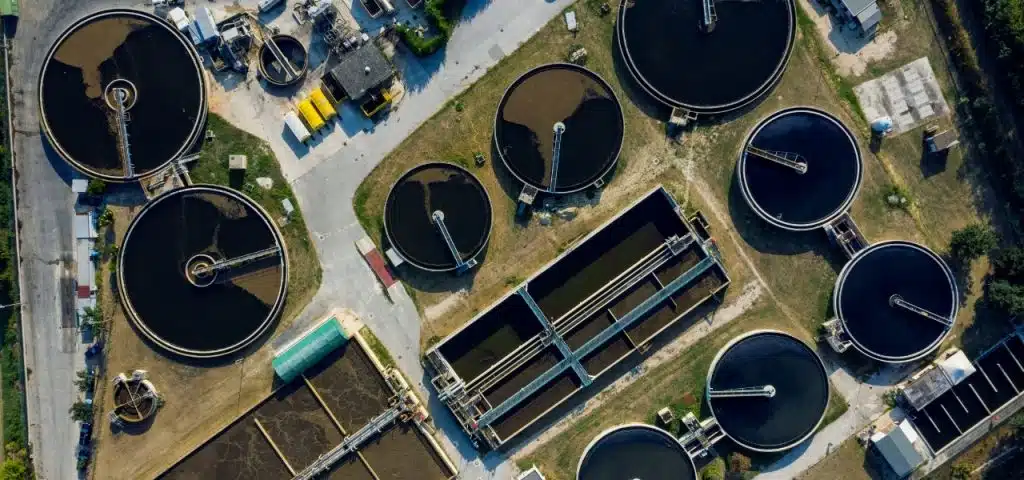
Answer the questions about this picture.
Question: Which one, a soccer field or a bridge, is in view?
bridge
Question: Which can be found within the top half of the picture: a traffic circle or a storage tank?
storage tank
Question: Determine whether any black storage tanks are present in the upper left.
Yes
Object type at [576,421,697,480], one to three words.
storage tank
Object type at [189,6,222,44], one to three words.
shed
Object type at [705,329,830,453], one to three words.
storage tank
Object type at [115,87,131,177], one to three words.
bridge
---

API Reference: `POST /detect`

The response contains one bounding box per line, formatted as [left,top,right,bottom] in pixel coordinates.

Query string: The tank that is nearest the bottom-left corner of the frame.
[111,373,163,423]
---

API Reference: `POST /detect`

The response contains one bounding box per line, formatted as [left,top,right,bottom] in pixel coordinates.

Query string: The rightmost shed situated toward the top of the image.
[926,129,960,153]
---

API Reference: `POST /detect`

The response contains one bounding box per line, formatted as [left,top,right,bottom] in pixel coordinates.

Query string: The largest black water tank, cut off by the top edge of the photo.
[616,0,797,114]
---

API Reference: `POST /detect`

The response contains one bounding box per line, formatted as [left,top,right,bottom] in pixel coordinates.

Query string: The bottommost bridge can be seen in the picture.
[288,395,409,480]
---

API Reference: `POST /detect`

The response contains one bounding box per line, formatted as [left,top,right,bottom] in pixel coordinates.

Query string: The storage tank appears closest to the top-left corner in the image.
[39,11,211,180]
